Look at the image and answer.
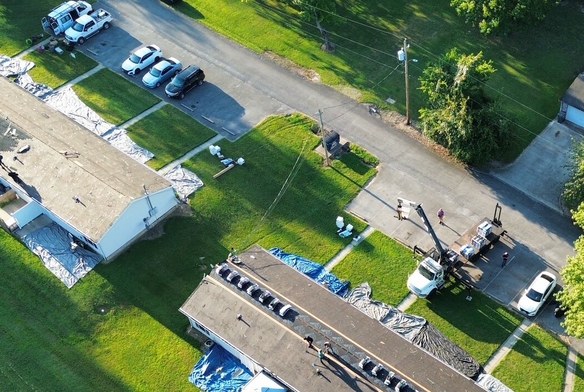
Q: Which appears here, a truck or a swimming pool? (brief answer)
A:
truck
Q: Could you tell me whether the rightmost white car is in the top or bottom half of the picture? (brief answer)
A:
bottom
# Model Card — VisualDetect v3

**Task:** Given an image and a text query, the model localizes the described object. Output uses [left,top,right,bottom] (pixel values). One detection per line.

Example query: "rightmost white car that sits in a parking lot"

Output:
[514,270,564,320]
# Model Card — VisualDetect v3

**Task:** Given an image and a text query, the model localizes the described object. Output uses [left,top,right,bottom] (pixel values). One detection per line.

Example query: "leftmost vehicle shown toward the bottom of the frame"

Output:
[386,199,511,309]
